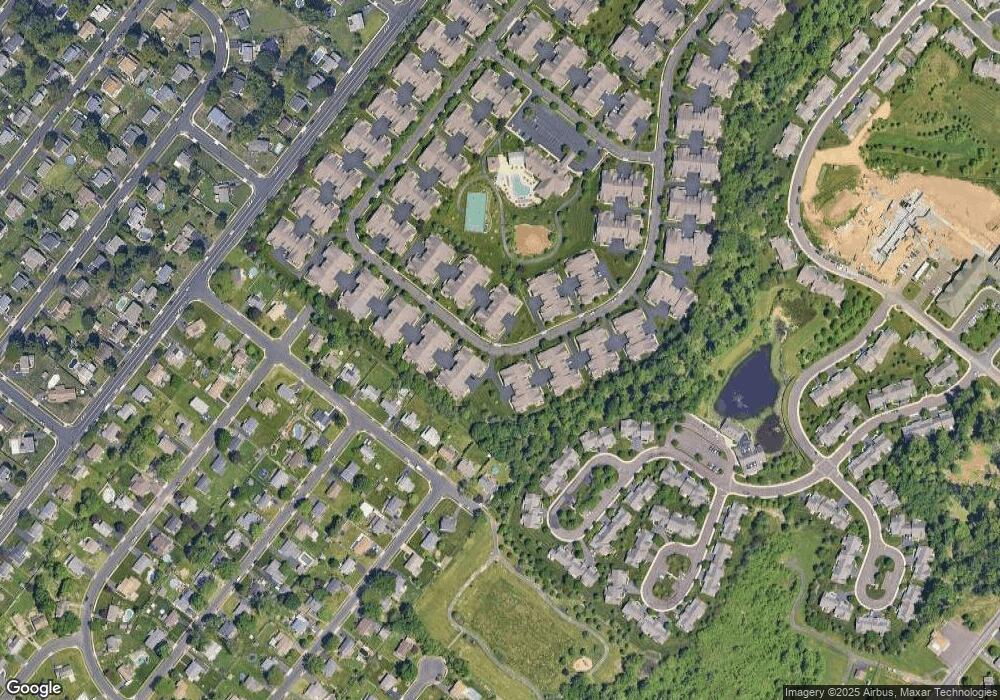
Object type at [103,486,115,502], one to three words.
swimming pool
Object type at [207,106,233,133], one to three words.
house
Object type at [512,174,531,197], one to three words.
swimming pool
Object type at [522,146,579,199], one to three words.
building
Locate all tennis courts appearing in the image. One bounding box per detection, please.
[465,192,487,233]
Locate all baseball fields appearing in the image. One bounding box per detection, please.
[516,225,551,256]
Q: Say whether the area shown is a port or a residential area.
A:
residential area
